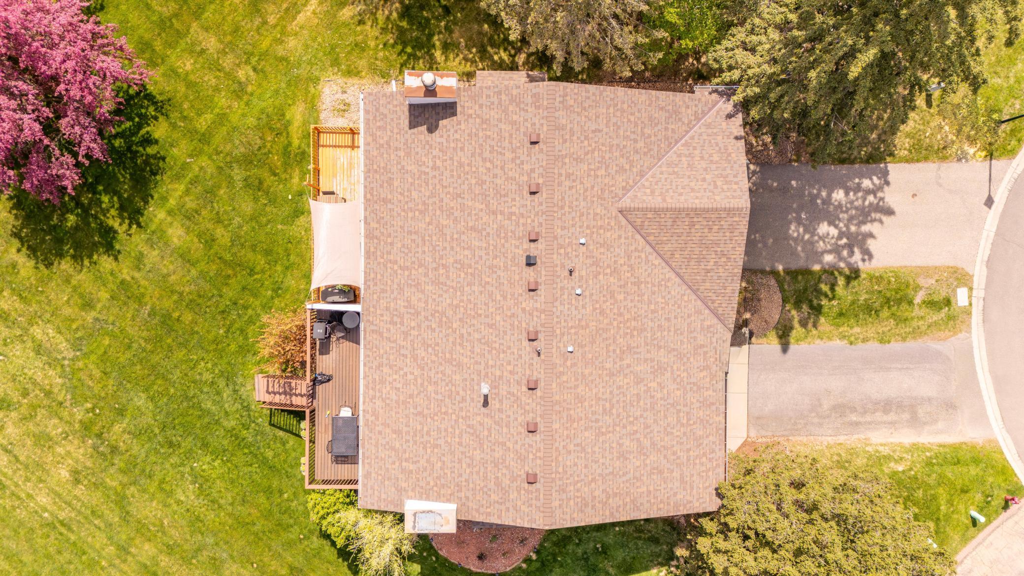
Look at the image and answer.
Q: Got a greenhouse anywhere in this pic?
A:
No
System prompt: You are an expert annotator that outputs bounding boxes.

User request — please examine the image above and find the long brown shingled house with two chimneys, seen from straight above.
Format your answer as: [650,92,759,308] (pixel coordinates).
[358,70,751,534]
